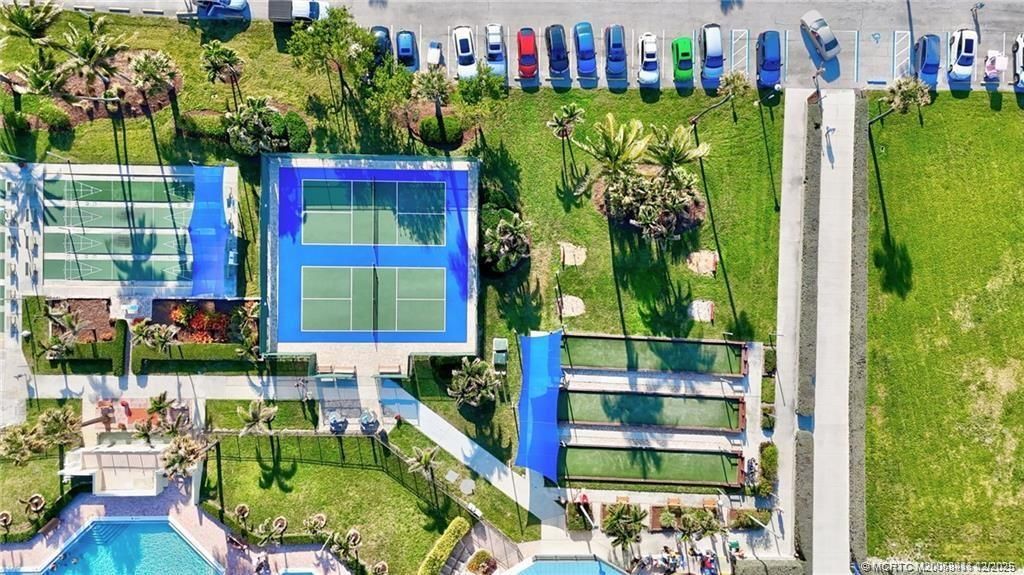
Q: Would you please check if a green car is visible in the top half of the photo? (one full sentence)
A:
Yes, a green car shows up in the top half of the photo.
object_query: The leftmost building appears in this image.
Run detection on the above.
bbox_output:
[56,439,172,497]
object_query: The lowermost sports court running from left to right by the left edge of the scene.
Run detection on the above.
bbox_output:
[44,259,193,282]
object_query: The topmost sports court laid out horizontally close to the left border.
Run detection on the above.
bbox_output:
[44,180,193,203]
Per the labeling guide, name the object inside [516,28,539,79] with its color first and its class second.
red car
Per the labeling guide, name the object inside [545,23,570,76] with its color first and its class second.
blue car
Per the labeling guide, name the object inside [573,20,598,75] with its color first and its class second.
blue car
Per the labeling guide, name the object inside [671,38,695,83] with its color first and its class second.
green car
